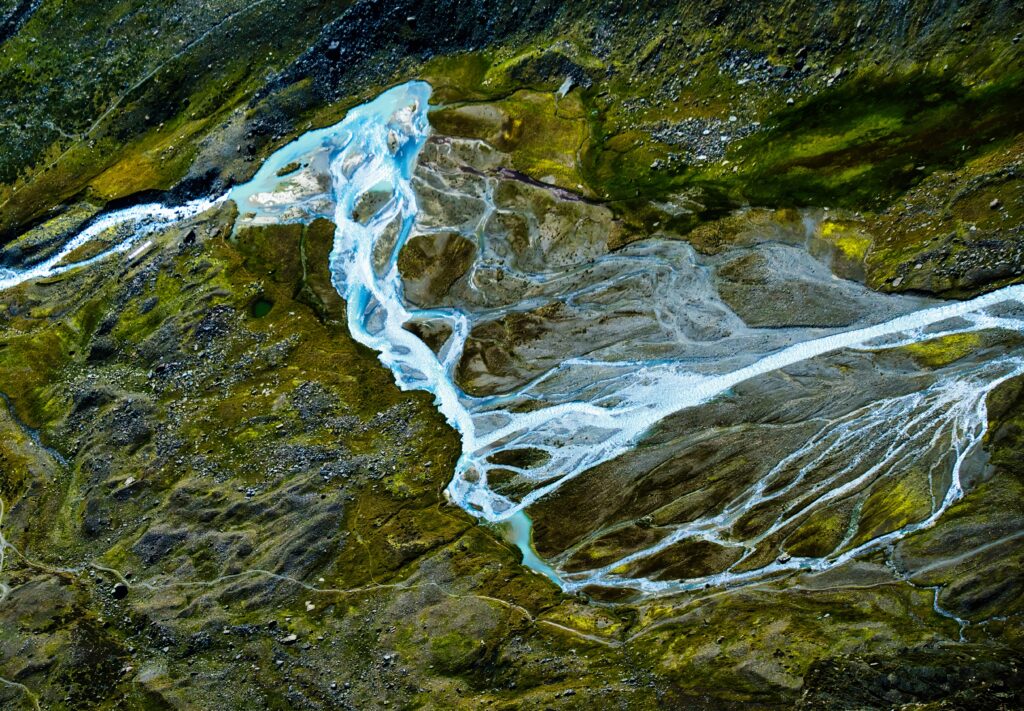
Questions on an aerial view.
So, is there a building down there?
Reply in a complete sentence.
No, the picture doesn't show any building.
